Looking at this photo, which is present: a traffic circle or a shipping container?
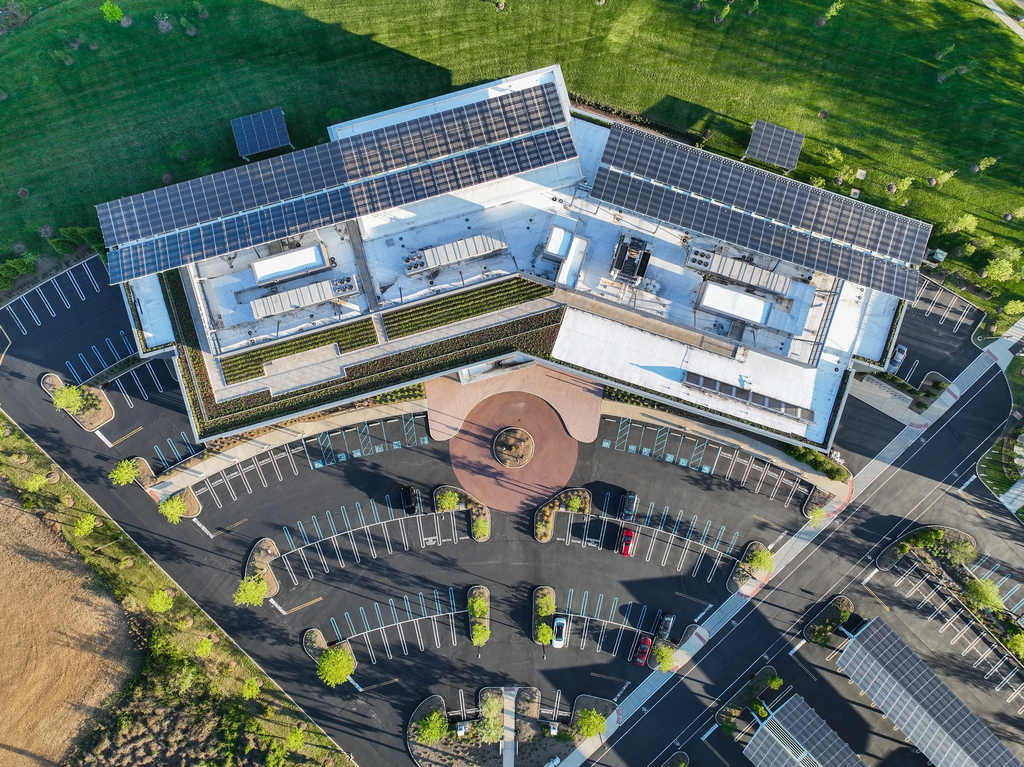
traffic circle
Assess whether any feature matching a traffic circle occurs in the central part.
Yes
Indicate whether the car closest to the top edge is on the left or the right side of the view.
right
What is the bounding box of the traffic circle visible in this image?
[449,391,578,512]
